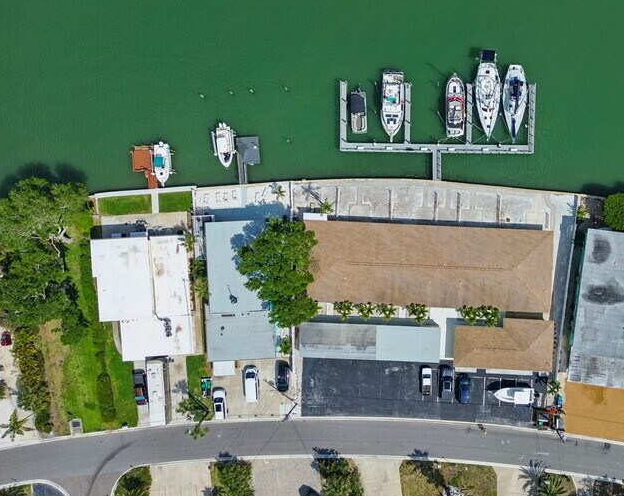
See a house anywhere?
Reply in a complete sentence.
Yes, this view includes a house.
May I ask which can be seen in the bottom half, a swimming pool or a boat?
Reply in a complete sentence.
What appears in the bottom half is a boat.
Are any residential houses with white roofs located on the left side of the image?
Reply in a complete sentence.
Yes, there is a residential house with a white roof on the left side of the image.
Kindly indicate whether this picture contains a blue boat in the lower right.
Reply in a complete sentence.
No, I can find no blue boat in the lower right.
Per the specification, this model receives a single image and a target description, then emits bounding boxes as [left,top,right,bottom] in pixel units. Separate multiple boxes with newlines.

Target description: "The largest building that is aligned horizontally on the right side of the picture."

[303,221,553,313]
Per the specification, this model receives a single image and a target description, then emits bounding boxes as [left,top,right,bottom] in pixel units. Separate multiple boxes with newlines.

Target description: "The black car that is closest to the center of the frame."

[274,360,290,392]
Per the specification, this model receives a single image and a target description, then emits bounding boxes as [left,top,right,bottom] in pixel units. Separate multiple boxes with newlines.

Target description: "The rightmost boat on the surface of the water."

[503,65,531,143]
